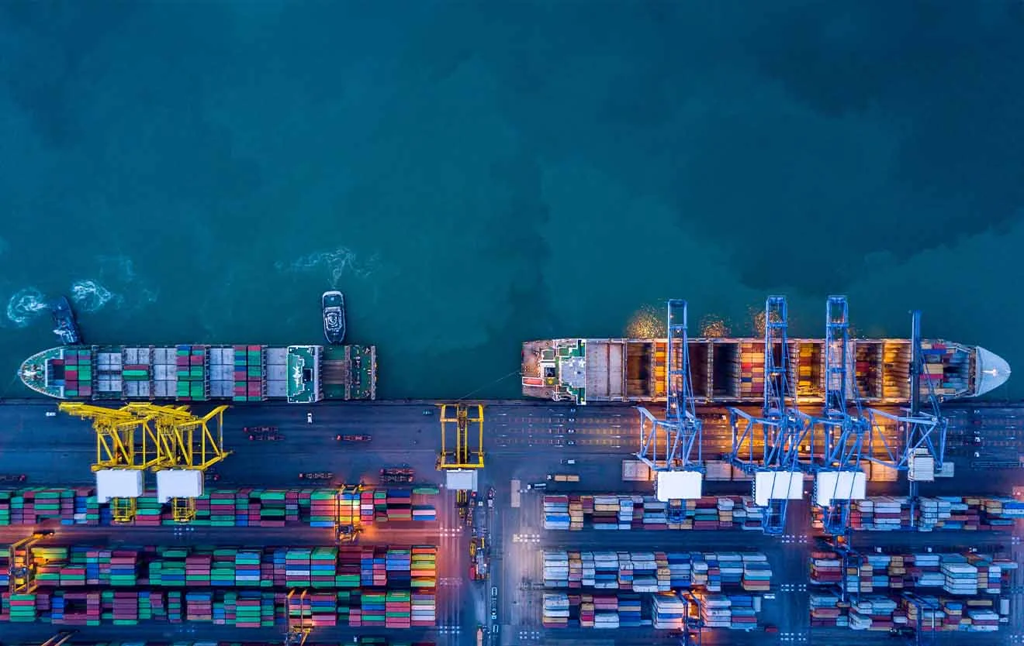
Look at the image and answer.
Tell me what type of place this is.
port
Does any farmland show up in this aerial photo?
No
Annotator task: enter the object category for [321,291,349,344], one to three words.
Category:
boat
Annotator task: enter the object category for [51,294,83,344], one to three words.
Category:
boat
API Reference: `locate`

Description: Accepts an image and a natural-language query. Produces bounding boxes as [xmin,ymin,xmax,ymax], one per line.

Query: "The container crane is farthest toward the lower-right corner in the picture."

[894,586,938,646]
